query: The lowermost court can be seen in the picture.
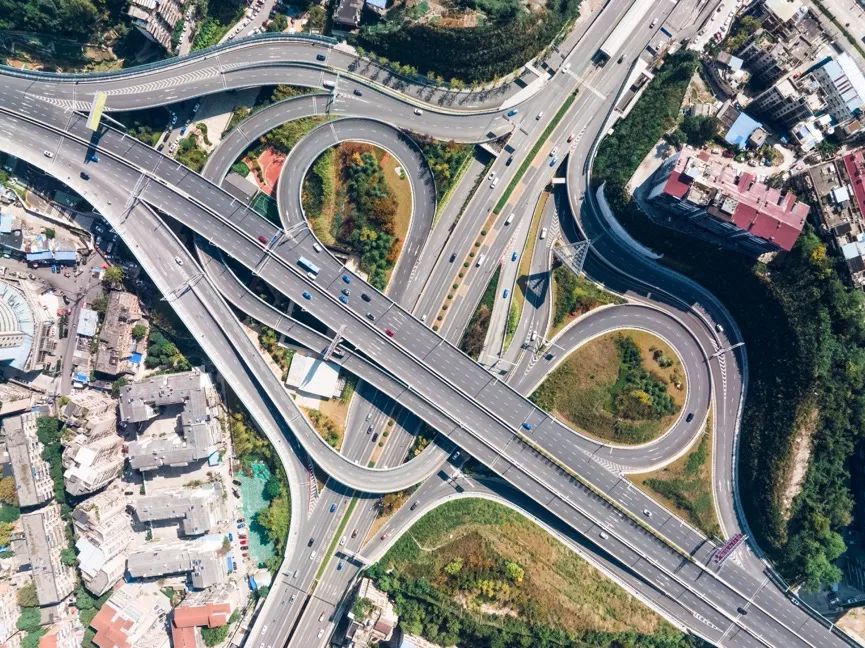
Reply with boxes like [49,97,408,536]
[250,193,282,227]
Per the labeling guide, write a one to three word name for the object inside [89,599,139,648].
house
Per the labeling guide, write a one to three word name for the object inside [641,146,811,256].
building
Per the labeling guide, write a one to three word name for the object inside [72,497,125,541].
building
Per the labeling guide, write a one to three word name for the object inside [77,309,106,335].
house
